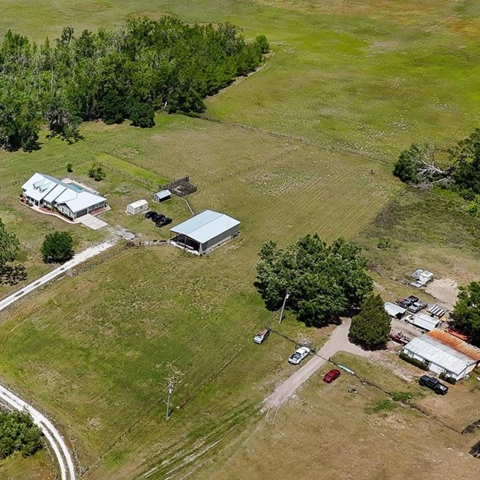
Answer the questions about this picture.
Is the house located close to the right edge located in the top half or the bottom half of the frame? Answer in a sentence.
The bottom half of the photo is where the house located close to the right edge is.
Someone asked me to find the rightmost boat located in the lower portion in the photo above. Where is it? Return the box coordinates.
[440,325,476,342]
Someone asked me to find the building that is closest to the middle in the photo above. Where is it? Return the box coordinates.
[168,209,242,257]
